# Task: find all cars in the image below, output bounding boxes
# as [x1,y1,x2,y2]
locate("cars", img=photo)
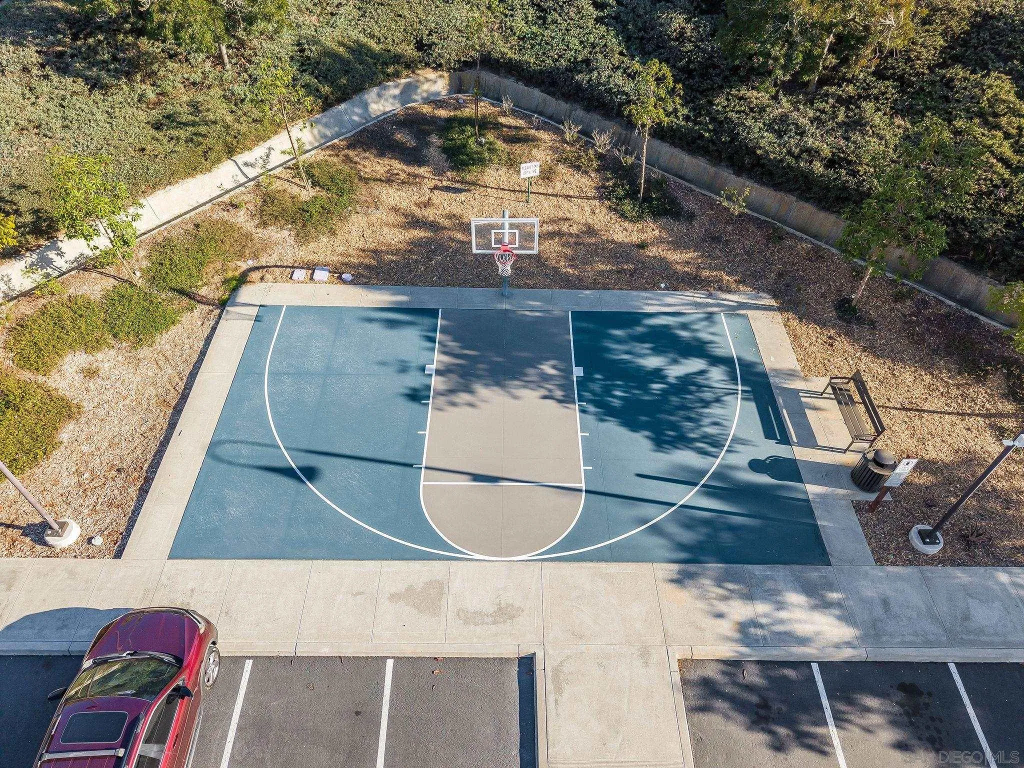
[36,605,219,768]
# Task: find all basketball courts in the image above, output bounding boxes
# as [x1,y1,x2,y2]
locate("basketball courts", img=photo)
[169,306,830,566]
